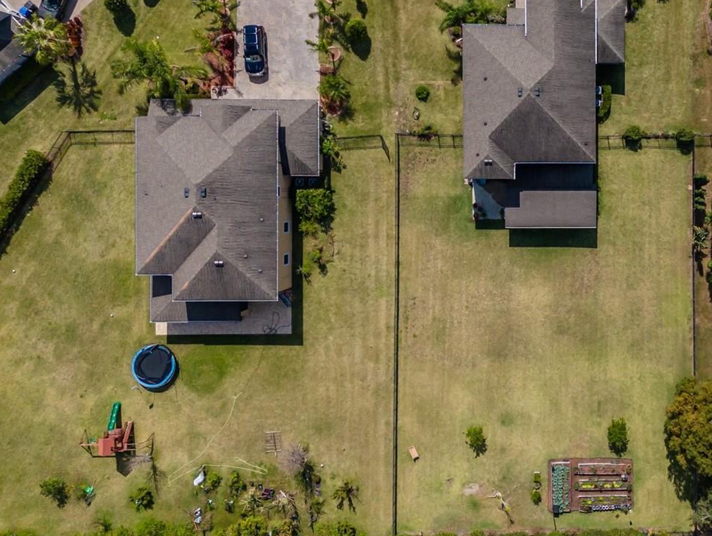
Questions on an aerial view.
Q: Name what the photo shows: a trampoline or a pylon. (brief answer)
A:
trampoline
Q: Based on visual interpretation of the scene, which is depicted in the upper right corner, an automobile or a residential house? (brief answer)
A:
residential house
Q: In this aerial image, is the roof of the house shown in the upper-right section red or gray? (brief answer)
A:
gray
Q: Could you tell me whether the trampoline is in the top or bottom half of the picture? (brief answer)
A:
bottom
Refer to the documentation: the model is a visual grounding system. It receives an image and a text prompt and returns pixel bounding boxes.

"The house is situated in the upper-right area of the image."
[462,0,625,198]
